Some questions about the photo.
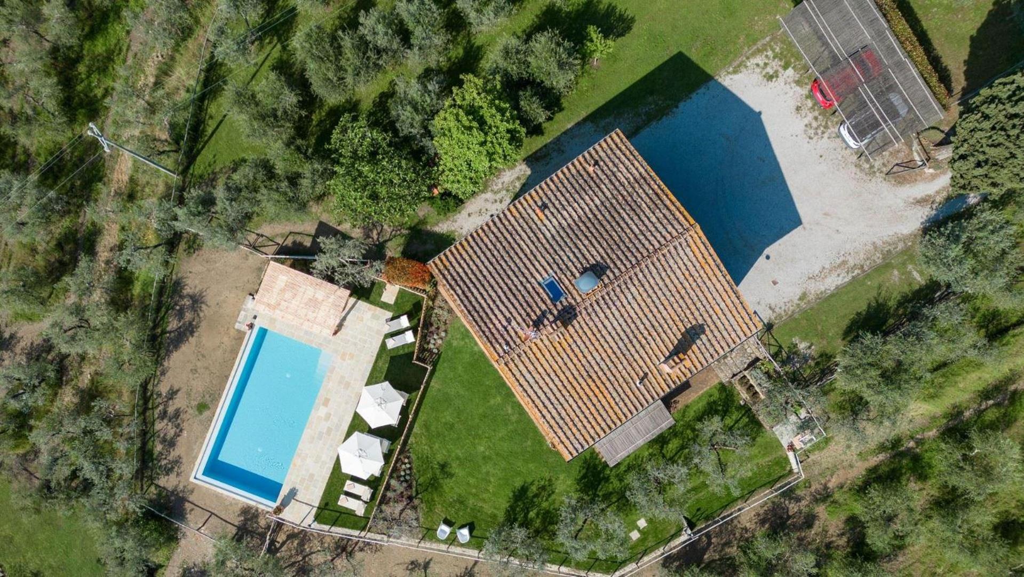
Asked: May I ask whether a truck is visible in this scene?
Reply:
No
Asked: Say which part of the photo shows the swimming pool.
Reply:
bottom left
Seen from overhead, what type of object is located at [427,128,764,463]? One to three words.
house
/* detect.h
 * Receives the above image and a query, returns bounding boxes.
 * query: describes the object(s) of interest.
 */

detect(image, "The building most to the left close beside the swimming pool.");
[252,261,361,336]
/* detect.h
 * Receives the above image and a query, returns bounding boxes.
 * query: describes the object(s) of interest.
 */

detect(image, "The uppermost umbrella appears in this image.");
[357,377,408,430]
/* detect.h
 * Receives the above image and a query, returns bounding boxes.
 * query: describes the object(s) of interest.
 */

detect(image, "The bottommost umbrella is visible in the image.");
[341,428,385,479]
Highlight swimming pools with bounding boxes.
[189,325,333,514]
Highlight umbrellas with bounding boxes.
[341,428,385,479]
[357,377,408,430]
